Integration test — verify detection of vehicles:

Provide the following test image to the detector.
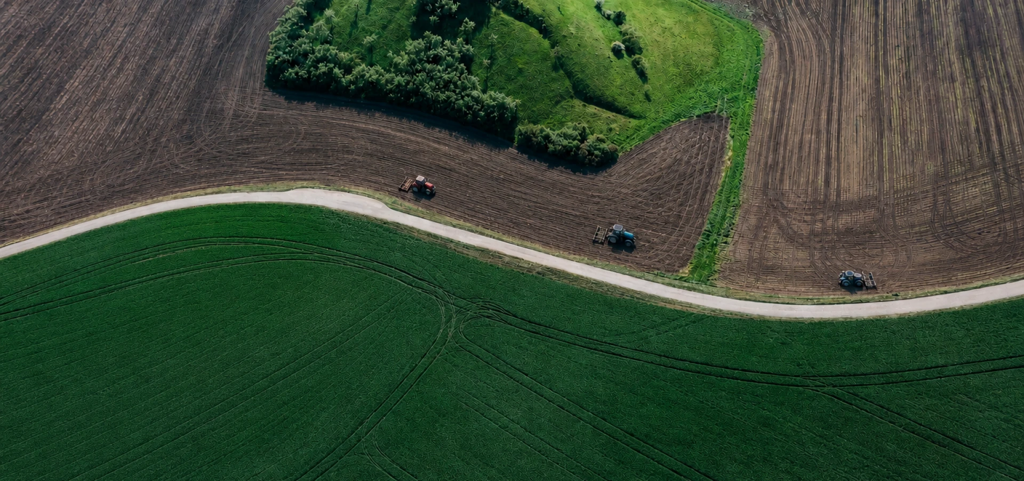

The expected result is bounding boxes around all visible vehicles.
[607,223,636,245]
[411,175,438,196]
[836,270,862,289]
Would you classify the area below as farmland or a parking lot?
farmland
